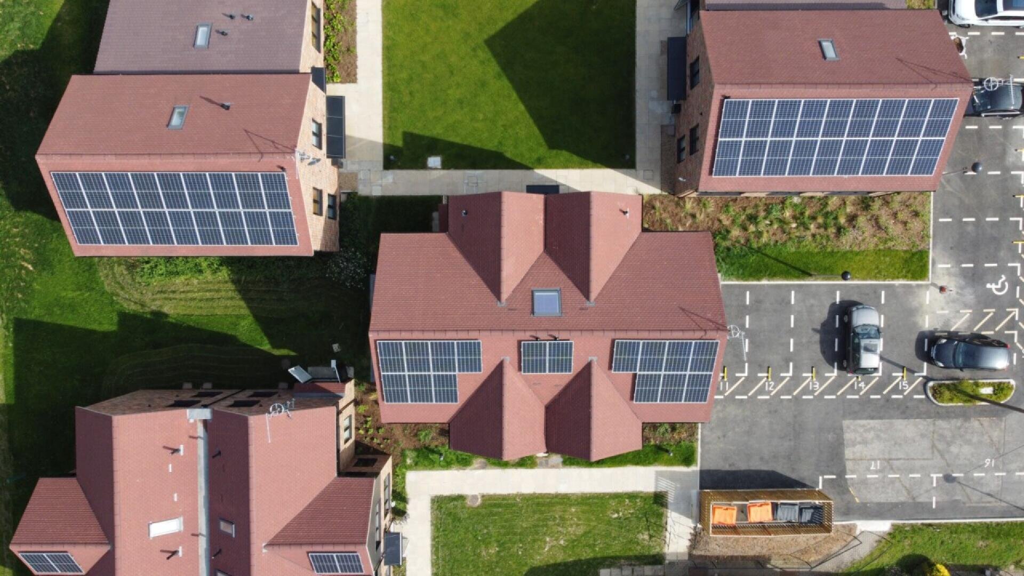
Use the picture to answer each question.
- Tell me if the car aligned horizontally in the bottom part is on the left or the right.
right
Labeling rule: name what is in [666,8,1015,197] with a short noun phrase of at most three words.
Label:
house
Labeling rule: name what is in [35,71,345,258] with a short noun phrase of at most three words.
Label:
house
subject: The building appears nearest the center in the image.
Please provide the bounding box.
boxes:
[369,185,751,462]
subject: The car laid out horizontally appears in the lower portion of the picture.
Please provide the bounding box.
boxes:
[925,336,1012,375]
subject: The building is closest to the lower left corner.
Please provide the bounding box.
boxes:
[10,364,401,576]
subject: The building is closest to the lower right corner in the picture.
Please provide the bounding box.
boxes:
[699,489,835,535]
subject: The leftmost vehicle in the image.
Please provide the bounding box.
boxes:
[839,305,882,377]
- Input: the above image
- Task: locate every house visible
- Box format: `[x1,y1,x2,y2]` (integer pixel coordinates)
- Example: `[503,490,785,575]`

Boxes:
[35,71,345,258]
[666,8,1015,197]
[369,185,751,462]
[10,364,401,576]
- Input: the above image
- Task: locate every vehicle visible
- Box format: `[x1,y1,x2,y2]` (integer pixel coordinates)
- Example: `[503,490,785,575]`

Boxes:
[943,0,1024,31]
[967,83,1024,121]
[925,336,1012,375]
[839,305,882,377]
